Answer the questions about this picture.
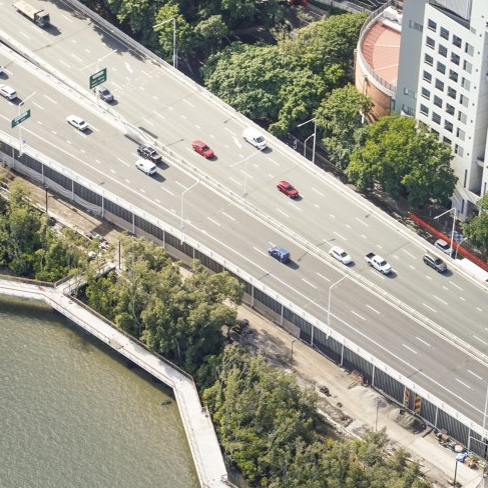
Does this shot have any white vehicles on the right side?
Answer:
Yes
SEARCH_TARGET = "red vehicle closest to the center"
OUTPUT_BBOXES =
[277,182,301,198]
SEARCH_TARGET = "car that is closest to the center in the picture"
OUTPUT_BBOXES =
[269,248,292,264]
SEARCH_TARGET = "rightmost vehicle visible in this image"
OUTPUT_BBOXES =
[458,255,488,280]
